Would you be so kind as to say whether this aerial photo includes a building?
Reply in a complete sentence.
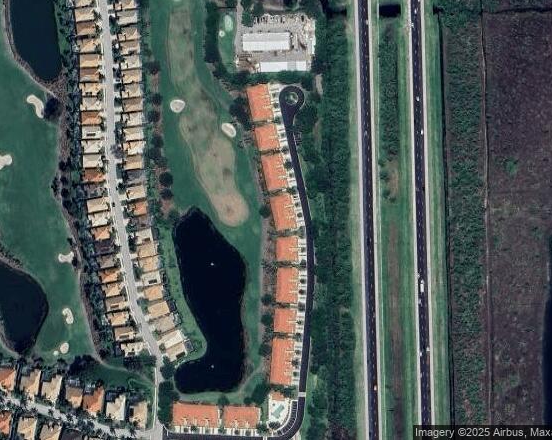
Yes, the photo shows a building.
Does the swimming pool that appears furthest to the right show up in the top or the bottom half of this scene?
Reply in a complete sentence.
You can find the swimming pool that appears furthest to the right in the bottom half.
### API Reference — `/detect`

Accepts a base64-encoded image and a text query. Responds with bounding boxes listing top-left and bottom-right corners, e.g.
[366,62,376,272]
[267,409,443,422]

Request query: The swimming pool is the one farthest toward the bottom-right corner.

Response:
[269,394,289,425]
